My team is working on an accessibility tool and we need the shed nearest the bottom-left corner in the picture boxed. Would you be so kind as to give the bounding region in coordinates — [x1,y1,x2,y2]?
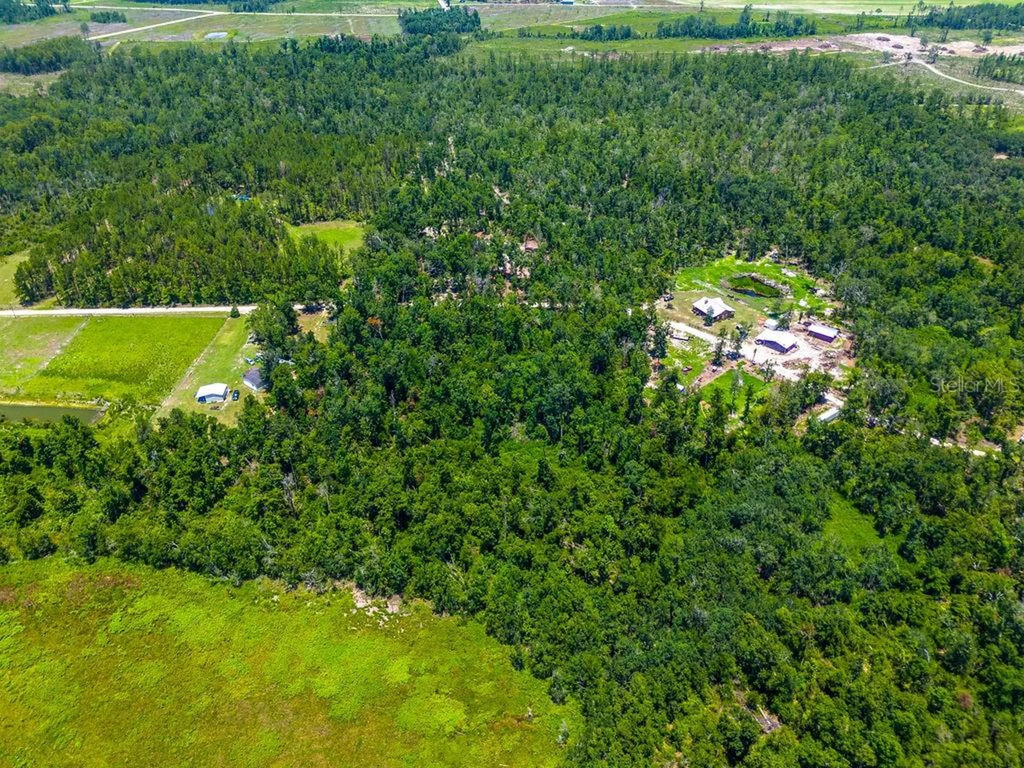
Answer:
[194,378,232,402]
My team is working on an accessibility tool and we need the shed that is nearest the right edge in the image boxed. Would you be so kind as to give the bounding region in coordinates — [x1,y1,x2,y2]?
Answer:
[809,323,837,342]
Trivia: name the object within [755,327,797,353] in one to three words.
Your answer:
building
